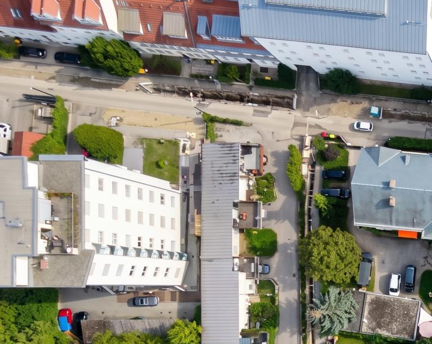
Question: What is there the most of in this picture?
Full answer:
The largest share of the image is taken up by buildings.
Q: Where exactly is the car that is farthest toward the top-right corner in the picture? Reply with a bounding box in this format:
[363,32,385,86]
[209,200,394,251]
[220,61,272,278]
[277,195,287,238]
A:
[353,119,375,132]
